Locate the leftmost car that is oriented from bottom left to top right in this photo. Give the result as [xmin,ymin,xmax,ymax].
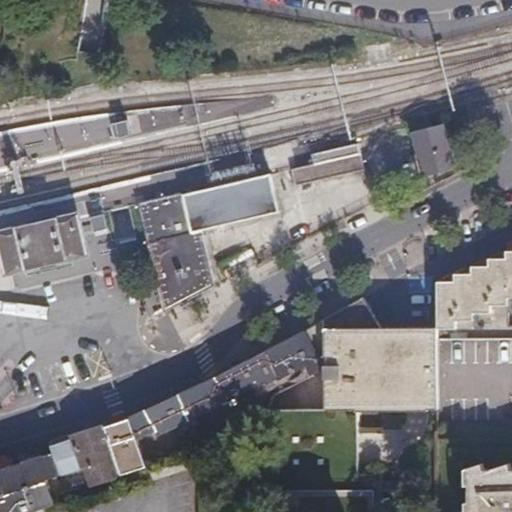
[18,352,37,372]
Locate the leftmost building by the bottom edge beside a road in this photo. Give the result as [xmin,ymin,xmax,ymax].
[0,452,60,496]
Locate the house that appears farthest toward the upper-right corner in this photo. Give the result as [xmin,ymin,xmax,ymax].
[410,124,456,179]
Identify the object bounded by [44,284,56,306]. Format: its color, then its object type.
white vehicle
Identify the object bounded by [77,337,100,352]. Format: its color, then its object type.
gray car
